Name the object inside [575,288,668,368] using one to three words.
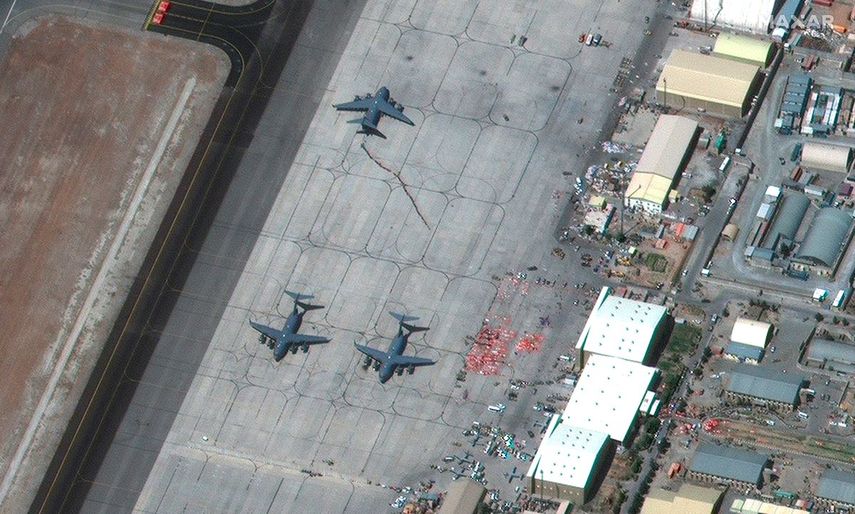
hangar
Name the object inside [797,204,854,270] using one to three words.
building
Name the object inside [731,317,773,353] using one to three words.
building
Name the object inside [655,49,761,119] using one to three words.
hangar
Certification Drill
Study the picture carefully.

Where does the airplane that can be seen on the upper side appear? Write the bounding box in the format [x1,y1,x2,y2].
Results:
[333,80,412,132]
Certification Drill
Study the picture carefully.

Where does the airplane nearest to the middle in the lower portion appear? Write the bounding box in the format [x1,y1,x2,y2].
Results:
[352,305,433,384]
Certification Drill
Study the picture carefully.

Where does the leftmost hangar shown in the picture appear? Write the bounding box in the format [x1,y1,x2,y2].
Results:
[432,477,490,514]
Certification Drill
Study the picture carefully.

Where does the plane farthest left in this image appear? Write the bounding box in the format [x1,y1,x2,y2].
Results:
[247,285,326,363]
